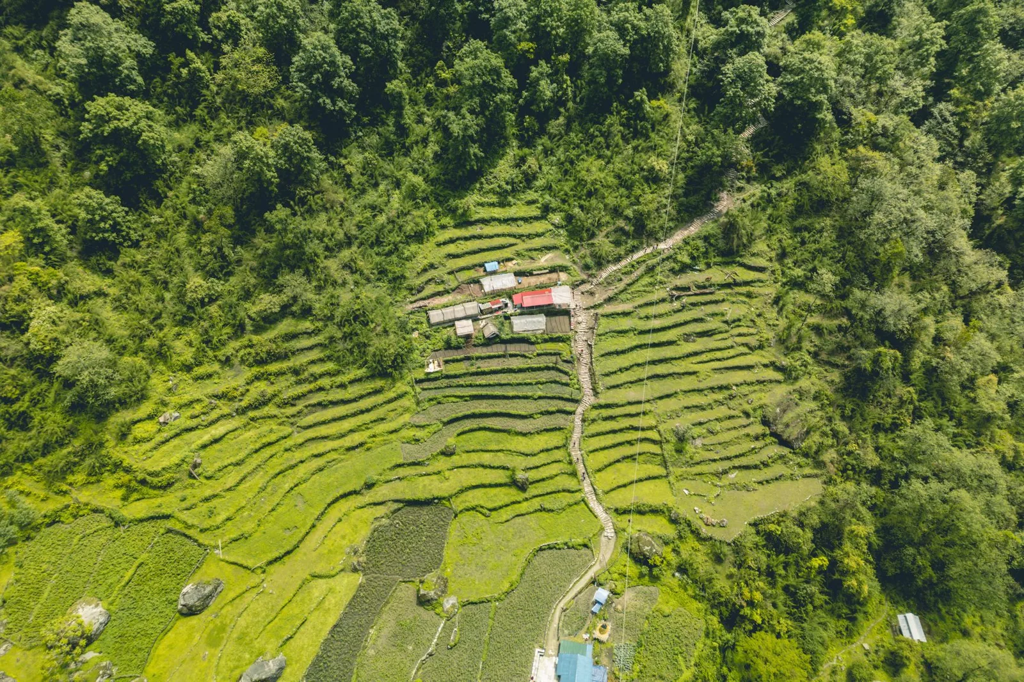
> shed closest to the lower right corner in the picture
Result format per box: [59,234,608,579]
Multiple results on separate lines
[895,613,927,643]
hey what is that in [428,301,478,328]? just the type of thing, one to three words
shed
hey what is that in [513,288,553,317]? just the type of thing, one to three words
house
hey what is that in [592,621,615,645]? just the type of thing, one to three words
building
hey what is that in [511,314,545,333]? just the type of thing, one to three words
greenhouse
